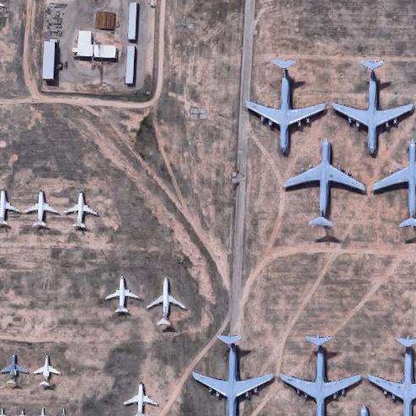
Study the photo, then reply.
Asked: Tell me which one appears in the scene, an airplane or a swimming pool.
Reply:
airplane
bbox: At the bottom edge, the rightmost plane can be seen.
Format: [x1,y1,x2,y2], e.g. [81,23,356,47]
[368,336,416,416]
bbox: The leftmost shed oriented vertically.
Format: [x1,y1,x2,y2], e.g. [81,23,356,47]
[42,41,58,81]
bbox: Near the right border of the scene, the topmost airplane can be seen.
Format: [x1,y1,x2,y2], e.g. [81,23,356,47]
[334,59,413,157]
